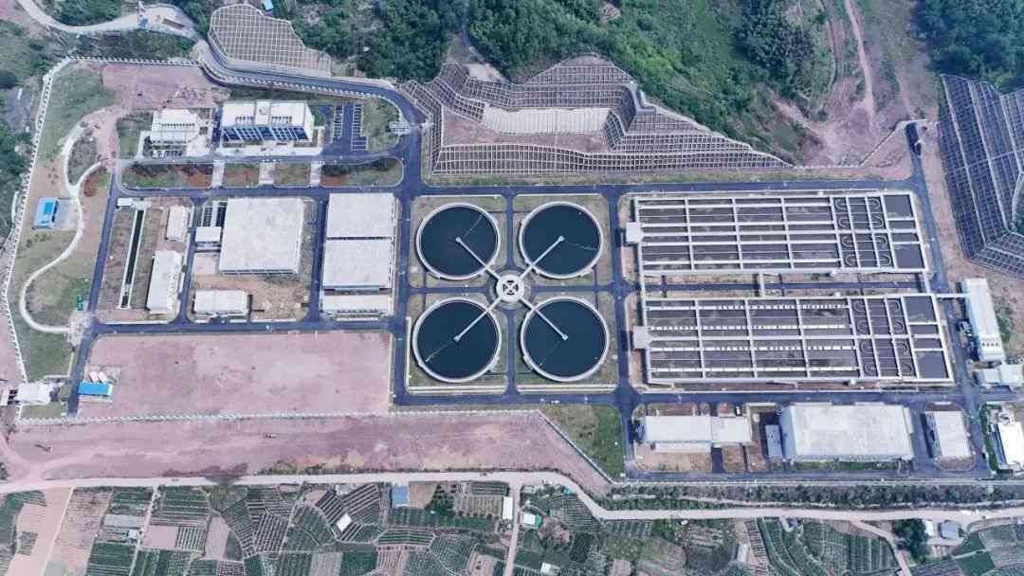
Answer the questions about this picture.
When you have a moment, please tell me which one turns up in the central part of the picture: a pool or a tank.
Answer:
tank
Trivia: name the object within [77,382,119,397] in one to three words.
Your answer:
shed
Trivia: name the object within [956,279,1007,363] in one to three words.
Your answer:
building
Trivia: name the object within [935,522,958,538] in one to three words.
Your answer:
house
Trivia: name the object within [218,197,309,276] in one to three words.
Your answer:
building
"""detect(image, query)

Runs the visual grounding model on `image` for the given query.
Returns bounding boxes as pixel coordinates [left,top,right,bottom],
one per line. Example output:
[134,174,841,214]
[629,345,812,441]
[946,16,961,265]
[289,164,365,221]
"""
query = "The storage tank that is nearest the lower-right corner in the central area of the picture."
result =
[520,297,609,383]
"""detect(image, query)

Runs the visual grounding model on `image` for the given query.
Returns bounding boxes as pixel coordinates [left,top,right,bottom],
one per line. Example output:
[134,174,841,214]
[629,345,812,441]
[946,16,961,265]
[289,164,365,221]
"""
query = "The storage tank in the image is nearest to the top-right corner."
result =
[519,201,603,280]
